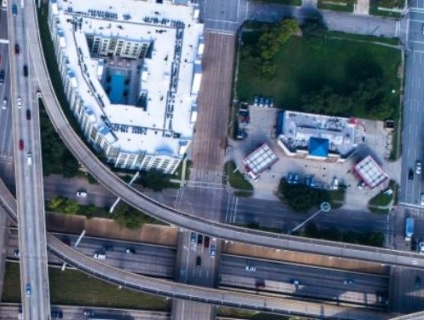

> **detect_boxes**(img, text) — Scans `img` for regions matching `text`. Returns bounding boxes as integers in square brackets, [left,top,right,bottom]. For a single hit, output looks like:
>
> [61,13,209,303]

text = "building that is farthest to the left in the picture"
[44,0,208,174]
